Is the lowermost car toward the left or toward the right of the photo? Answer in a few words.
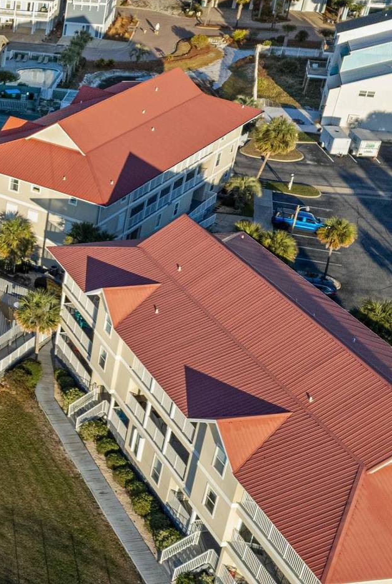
right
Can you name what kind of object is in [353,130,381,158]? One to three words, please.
trailer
